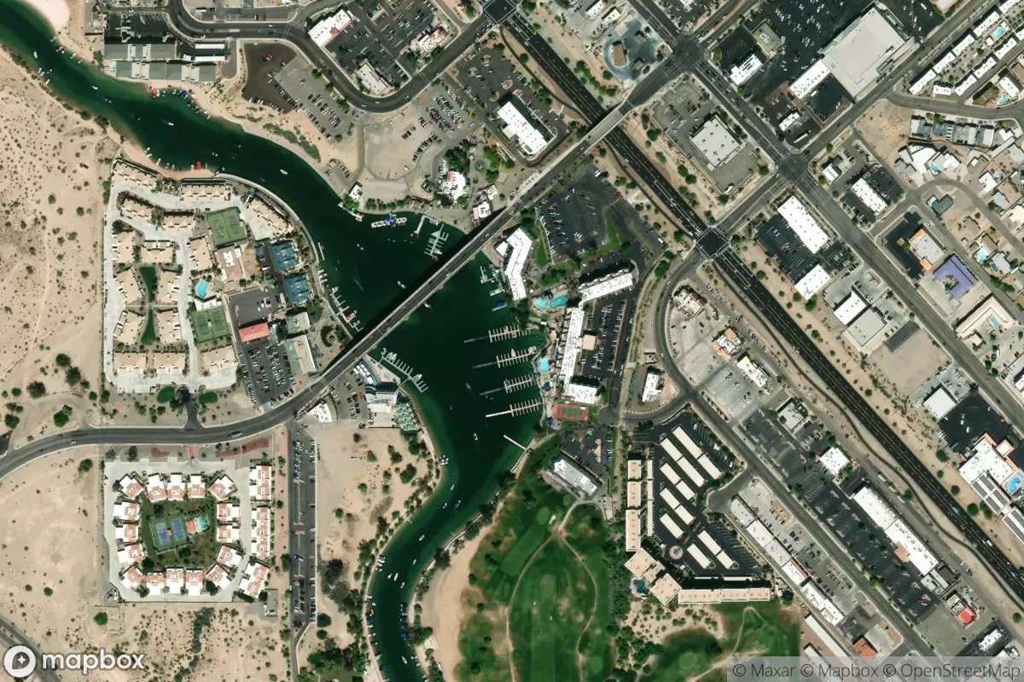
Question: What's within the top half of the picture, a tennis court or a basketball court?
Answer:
tennis court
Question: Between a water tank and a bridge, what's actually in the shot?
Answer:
bridge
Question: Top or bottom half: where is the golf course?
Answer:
bottom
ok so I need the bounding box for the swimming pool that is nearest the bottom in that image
[631,577,652,597]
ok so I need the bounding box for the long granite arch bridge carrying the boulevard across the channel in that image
[363,227,494,348]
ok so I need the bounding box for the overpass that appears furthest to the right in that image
[585,109,626,148]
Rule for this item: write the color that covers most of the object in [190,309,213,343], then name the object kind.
green tennis court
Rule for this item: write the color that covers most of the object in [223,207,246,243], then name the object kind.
green tennis court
